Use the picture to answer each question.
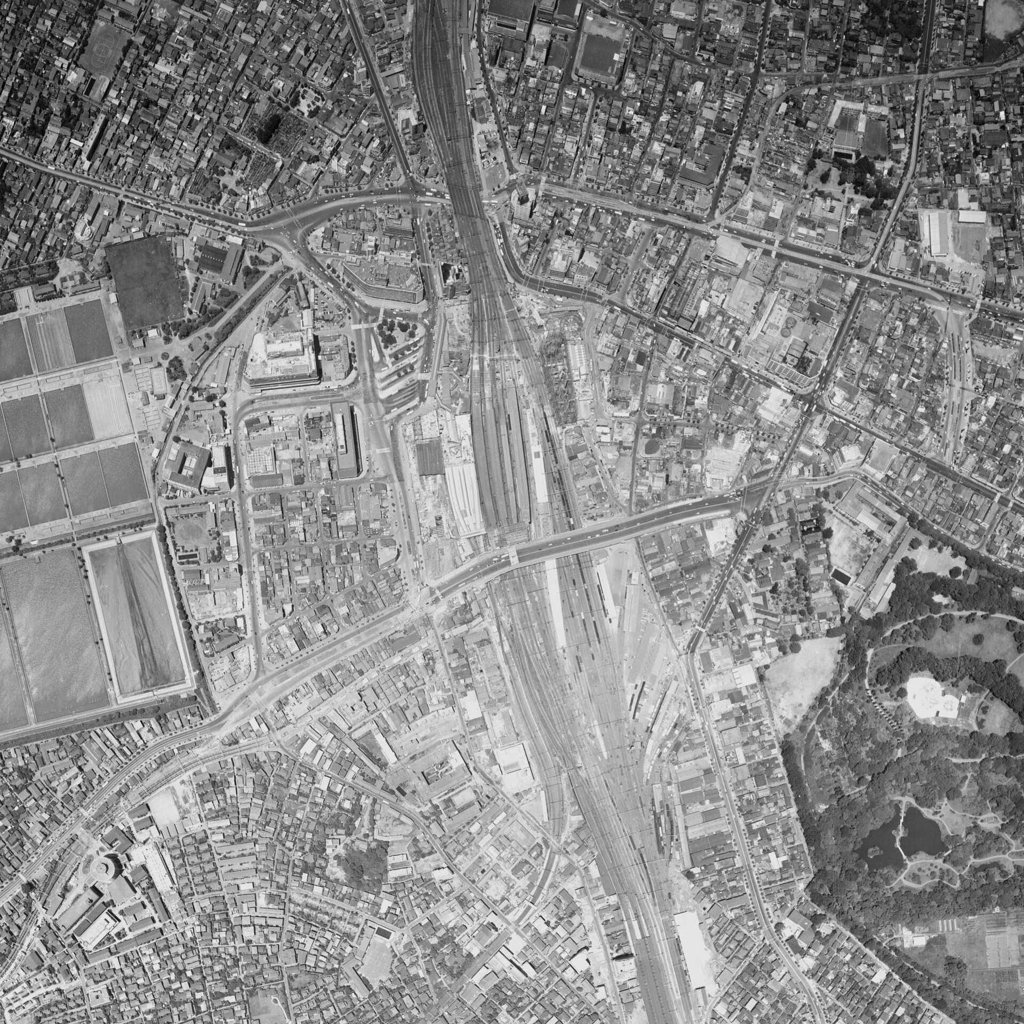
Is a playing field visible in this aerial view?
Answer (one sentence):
Yes, the frame does contain a playing field.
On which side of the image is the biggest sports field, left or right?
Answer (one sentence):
It is on the left.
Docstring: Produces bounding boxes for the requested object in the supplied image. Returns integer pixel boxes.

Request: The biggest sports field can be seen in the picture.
[104,236,184,331]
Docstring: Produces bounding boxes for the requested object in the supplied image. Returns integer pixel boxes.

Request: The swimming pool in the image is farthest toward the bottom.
[374,926,392,941]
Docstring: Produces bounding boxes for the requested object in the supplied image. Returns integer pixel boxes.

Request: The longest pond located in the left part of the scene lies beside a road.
[81,529,195,704]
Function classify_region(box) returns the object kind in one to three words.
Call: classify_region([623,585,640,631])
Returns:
shed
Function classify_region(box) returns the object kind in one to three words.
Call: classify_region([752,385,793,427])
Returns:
building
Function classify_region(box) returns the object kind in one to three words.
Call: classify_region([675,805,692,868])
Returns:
shed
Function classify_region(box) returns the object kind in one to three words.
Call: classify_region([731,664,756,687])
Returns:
building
